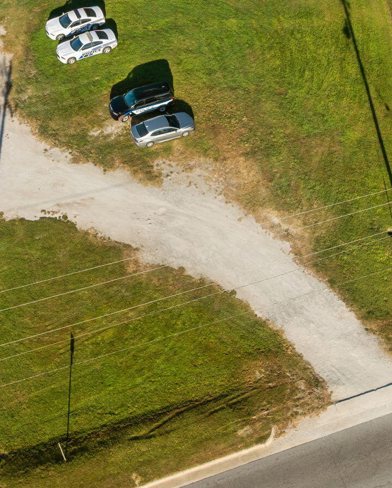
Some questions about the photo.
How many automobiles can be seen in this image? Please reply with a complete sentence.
The count of automobiles comes to 4.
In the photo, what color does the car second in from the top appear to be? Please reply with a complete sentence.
The car second in from the top looks white in the image.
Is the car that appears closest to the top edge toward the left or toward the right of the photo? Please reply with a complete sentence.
It is on the left.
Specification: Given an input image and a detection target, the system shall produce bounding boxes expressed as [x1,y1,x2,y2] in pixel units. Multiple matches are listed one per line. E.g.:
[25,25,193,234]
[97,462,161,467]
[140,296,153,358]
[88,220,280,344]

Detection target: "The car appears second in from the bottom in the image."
[108,82,173,122]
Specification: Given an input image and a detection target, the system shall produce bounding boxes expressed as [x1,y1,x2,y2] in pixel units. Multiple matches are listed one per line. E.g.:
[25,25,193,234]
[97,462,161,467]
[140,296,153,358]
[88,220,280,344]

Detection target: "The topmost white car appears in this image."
[45,9,105,40]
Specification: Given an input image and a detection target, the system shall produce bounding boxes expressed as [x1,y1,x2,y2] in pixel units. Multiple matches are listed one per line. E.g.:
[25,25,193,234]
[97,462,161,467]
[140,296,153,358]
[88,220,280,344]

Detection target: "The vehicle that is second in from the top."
[56,30,117,64]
